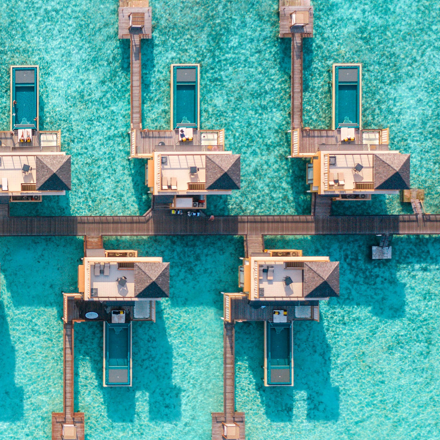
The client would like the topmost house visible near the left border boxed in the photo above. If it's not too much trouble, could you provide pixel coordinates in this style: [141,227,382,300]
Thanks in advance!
[0,128,71,205]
